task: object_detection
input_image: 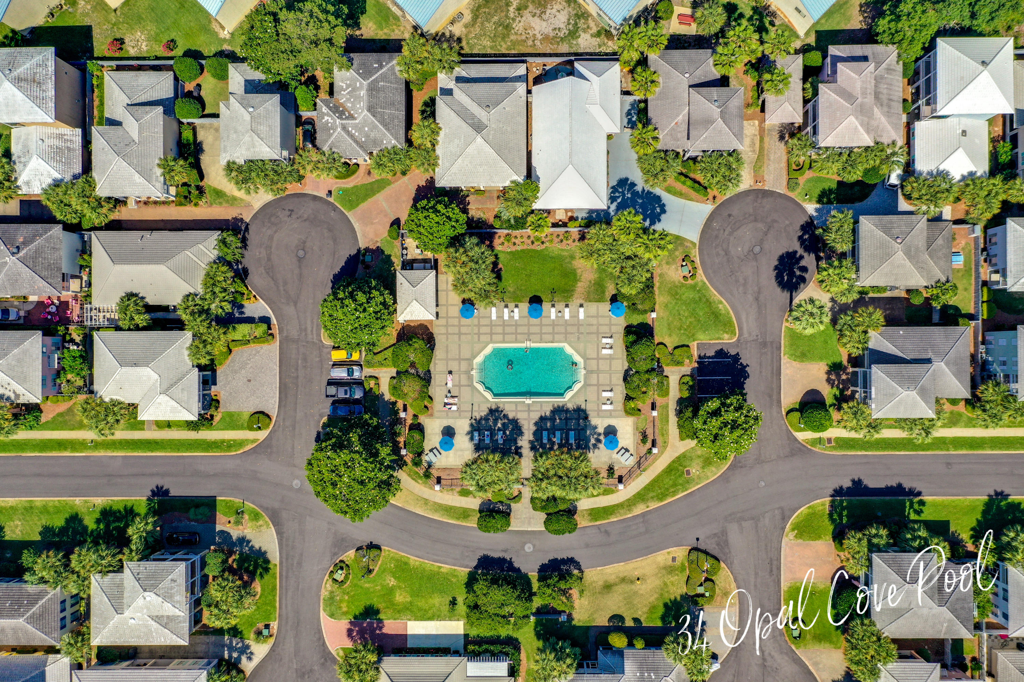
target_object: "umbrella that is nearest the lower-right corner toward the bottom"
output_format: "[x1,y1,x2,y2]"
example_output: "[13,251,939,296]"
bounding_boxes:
[604,435,618,450]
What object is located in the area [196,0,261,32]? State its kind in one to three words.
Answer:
building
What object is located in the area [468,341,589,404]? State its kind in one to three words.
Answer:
swimming pool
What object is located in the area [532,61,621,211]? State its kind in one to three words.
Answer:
house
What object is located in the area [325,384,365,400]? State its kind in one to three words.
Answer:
vehicle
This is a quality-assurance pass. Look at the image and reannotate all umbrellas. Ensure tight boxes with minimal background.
[460,304,475,319]
[439,436,454,452]
[528,303,543,319]
[604,435,618,450]
[610,302,626,317]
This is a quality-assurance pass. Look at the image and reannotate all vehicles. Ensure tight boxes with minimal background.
[330,403,364,419]
[330,350,361,363]
[330,365,363,380]
[325,384,365,400]
[166,532,200,546]
[300,117,316,150]
[882,160,900,191]
[0,306,22,322]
